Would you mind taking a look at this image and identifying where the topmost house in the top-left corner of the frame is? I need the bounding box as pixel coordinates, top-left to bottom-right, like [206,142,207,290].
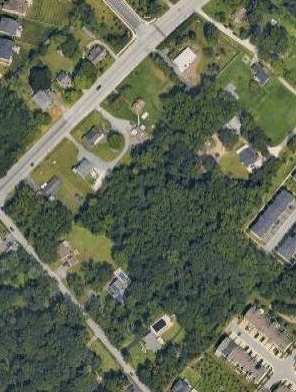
[2,0,31,17]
